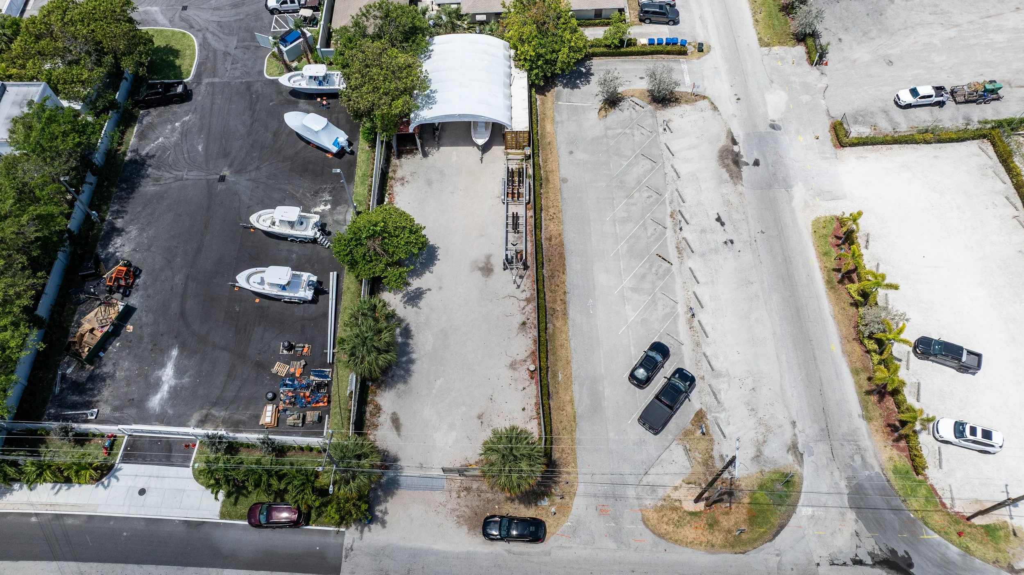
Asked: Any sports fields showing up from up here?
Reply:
No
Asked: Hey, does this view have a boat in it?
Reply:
Yes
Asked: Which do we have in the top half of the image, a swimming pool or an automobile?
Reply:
automobile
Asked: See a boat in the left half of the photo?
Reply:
Yes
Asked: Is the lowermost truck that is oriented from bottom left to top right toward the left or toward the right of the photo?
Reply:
right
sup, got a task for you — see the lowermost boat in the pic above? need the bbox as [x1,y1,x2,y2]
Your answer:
[236,267,323,305]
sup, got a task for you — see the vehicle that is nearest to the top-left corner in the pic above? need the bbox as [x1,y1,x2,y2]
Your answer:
[131,79,191,108]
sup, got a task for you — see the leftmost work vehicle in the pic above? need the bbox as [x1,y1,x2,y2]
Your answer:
[74,260,139,297]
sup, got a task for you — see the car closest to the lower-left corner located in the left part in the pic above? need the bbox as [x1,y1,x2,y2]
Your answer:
[245,498,308,533]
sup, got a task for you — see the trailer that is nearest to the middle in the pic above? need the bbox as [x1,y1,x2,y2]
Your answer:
[502,157,531,281]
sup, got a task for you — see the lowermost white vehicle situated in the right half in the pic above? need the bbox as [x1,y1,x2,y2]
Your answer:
[930,418,1005,458]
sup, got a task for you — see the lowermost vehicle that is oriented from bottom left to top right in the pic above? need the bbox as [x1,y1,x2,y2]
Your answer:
[636,367,698,439]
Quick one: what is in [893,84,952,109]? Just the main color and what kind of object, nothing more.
white truck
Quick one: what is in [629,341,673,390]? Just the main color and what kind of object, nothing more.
black car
